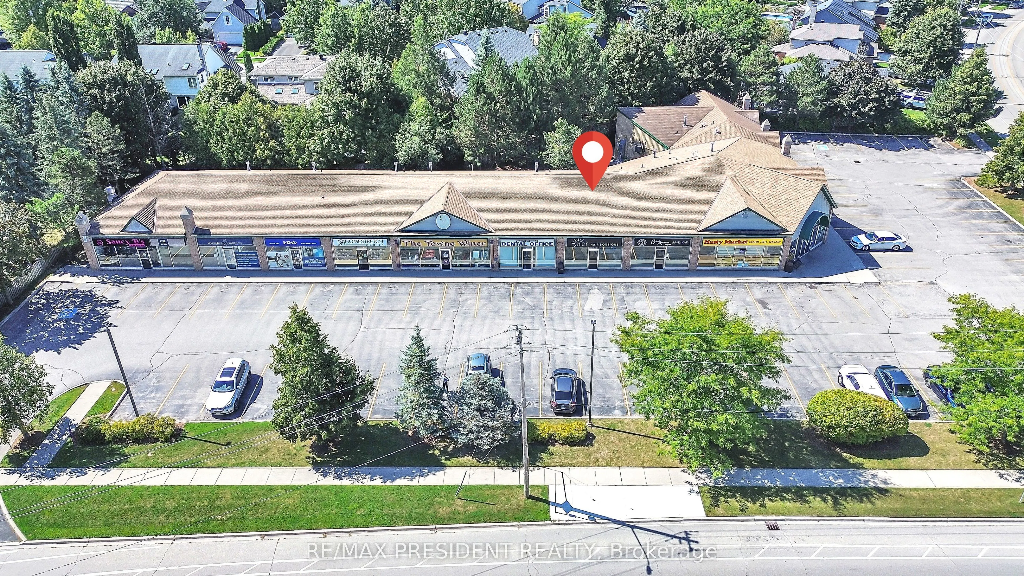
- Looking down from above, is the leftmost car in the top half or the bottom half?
bottom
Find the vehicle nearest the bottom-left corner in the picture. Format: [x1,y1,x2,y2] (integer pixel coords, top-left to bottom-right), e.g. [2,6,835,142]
[210,348,262,407]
